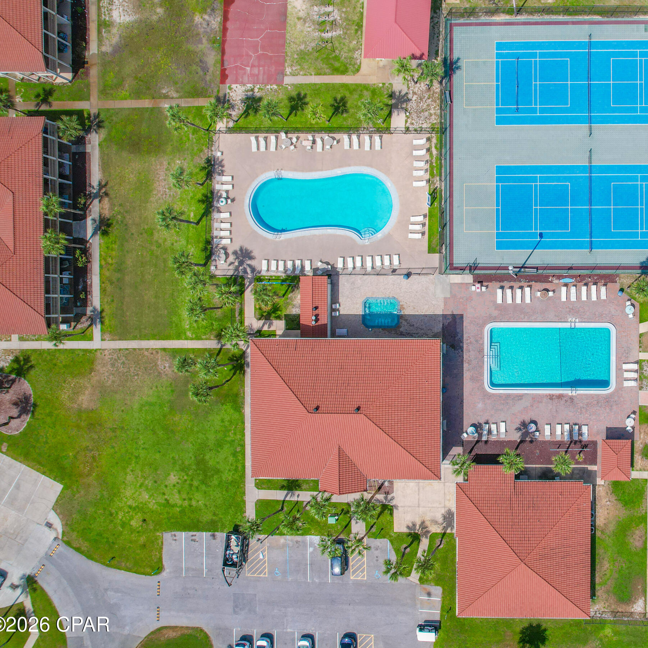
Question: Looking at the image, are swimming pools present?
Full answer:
Yes, there's a swimming pool down there.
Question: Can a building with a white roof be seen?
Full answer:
No, the photo shows no building with a white roof.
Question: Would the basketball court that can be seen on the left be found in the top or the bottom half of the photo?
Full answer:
Seen from above, the basketball court that can be seen on the left lies in the top half of the view.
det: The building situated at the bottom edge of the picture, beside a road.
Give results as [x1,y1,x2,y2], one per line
[454,464,593,620]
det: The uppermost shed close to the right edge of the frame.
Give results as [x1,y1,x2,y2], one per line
[601,438,632,482]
